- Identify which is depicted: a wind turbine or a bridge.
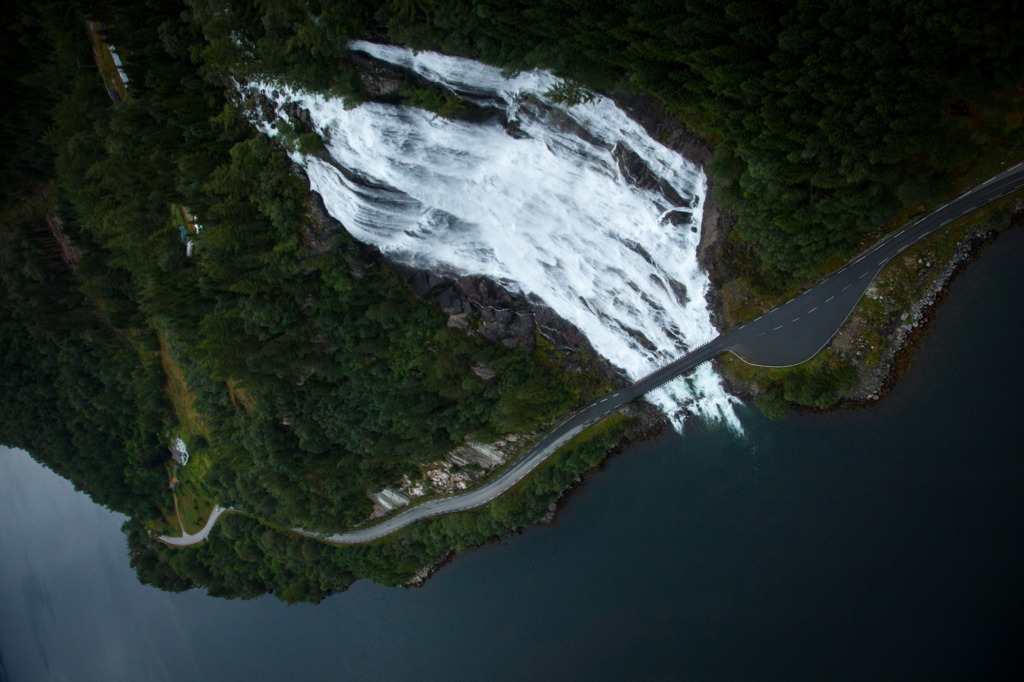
bridge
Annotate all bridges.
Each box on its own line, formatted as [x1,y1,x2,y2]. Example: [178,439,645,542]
[629,335,723,399]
